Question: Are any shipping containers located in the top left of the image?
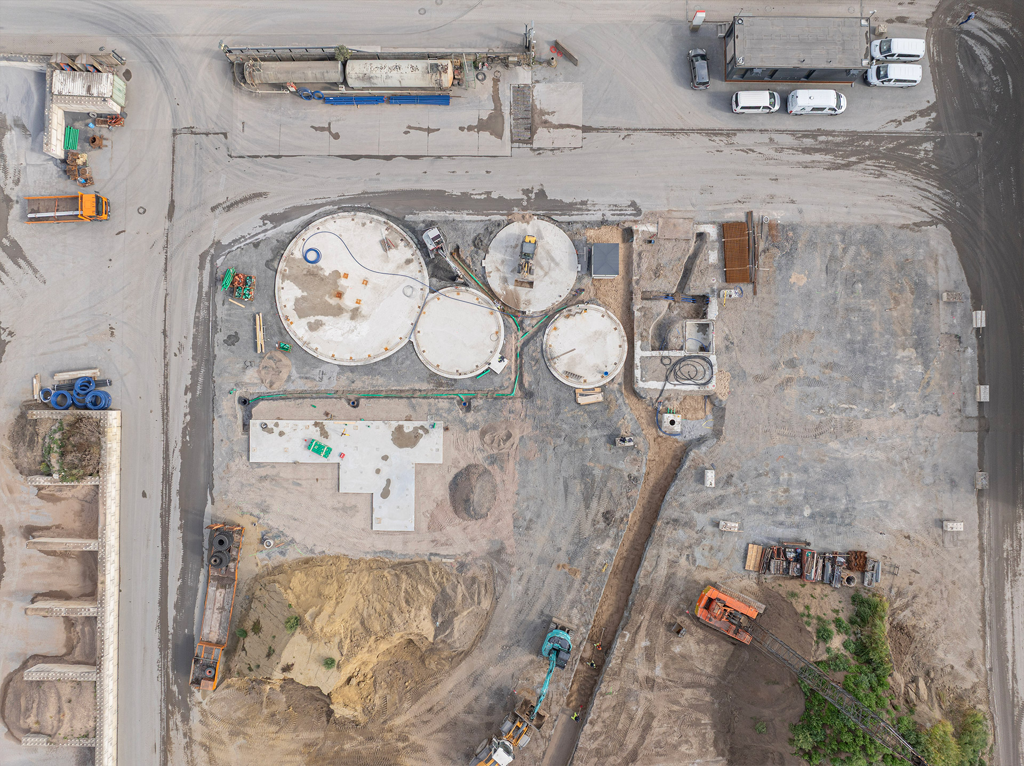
Yes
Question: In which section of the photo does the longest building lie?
top right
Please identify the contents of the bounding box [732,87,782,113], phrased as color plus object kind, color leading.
white vehicle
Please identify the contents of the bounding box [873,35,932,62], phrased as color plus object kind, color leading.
white vehicle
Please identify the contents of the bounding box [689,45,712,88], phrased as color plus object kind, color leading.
gray car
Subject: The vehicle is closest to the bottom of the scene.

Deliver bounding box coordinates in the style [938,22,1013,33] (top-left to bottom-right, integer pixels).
[473,693,544,766]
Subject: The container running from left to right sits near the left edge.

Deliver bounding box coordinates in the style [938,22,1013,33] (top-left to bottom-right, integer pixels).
[51,70,128,110]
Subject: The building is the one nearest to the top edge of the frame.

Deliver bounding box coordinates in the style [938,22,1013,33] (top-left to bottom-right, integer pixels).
[724,8,881,85]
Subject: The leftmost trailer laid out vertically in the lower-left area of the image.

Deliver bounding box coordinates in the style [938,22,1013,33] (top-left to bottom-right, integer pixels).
[185,524,239,696]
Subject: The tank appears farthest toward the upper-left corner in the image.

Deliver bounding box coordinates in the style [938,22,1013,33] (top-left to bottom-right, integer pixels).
[239,53,345,90]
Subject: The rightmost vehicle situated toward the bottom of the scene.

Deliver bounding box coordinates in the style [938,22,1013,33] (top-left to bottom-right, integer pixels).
[527,619,574,721]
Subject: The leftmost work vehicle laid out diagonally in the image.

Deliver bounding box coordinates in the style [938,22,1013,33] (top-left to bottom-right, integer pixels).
[414,224,463,276]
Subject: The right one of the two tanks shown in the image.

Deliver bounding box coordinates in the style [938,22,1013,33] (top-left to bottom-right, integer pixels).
[344,54,453,97]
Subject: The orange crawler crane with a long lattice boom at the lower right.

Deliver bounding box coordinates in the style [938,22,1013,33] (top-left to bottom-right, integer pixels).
[694,582,947,766]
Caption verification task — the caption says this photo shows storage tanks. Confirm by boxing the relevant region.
[239,53,345,90]
[344,54,453,97]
